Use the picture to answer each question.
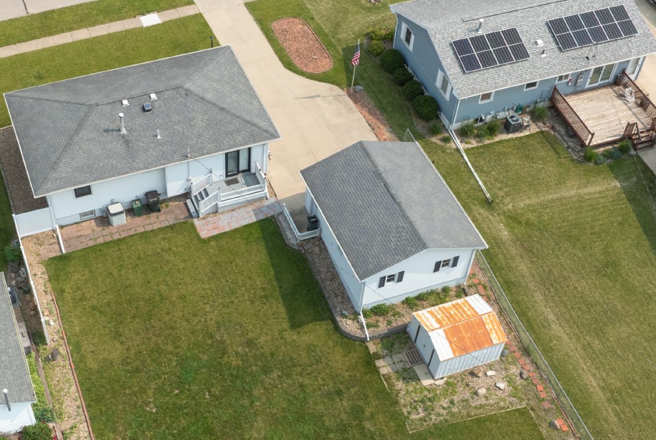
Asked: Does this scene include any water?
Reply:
No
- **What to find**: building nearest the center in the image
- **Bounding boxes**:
[298,138,489,339]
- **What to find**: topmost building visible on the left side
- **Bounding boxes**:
[3,44,281,220]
